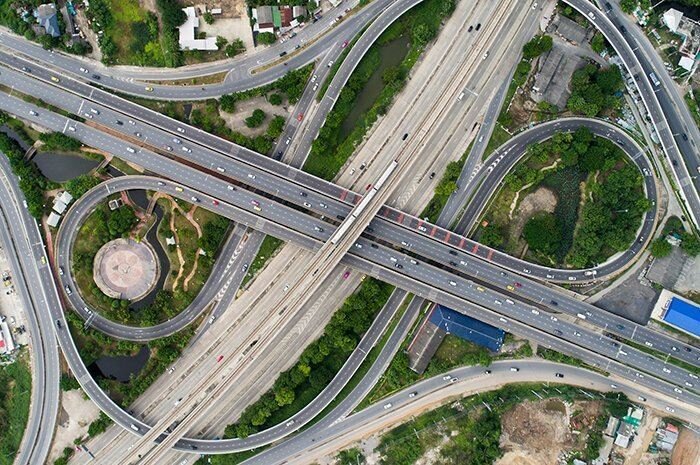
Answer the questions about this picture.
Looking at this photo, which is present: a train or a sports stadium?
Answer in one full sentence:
Visible in the photo is a train.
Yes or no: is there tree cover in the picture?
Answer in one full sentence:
Yes, tree cover can be seen from above here.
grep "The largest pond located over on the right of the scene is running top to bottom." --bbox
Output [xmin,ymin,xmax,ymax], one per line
[543,165,586,264]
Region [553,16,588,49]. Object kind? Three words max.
building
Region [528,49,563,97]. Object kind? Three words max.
building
